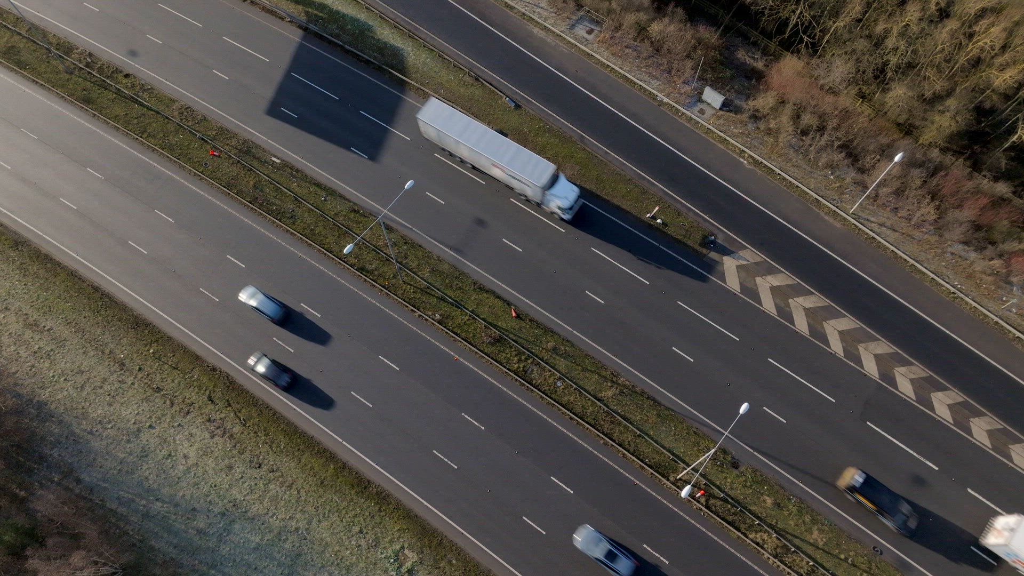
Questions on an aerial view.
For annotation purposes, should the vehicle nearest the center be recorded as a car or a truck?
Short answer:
truck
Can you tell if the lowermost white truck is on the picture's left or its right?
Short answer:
right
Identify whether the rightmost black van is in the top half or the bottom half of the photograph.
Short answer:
bottom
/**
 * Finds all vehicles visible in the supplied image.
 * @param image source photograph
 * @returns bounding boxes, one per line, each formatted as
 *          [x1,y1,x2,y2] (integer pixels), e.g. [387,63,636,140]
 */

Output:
[240,287,288,325]
[248,352,295,391]
[417,98,581,221]
[838,468,910,527]
[578,526,636,576]
[976,511,1024,571]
